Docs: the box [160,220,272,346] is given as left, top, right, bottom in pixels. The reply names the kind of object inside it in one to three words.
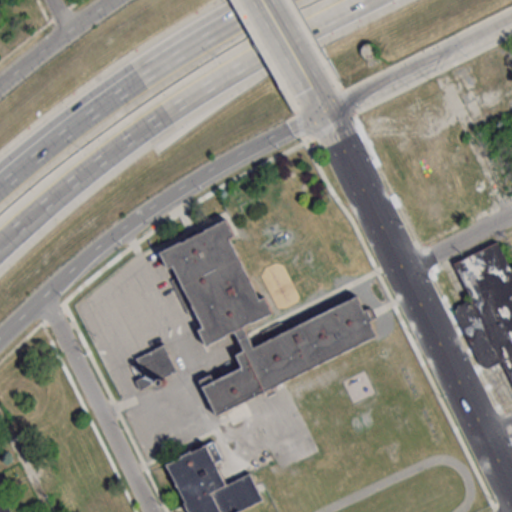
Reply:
building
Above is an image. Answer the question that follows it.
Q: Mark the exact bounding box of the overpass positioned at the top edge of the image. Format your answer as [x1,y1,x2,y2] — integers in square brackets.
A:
[232,0,344,114]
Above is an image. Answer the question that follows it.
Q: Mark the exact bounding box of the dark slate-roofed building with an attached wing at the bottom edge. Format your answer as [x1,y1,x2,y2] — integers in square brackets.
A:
[167,434,262,512]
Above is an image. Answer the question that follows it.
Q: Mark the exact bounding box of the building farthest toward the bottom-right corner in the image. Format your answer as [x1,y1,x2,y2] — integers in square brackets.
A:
[452,244,512,373]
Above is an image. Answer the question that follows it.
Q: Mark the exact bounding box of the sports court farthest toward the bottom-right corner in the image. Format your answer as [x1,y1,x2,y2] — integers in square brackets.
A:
[344,371,376,404]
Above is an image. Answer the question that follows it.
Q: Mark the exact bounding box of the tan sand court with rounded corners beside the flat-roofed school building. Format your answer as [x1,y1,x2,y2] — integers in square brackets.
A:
[262,263,298,308]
